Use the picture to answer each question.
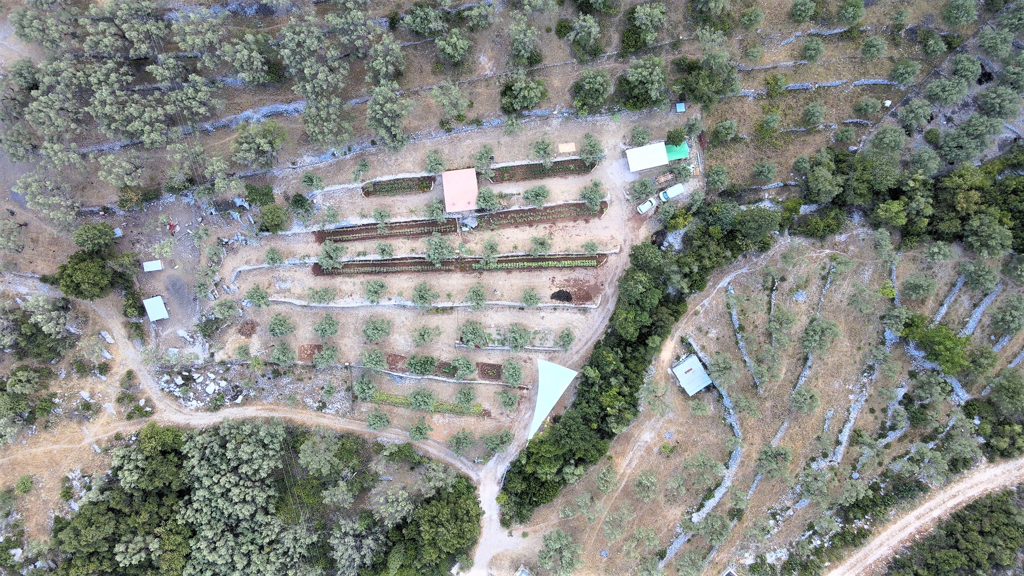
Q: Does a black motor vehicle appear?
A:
No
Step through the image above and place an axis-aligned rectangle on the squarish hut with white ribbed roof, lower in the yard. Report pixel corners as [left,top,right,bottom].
[144,296,173,321]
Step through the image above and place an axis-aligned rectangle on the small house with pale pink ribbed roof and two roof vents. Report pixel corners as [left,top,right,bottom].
[442,168,478,212]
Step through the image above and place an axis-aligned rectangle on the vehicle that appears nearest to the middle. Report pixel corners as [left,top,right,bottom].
[637,197,657,215]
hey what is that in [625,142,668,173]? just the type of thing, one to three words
house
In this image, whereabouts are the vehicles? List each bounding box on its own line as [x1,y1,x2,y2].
[658,182,686,203]
[637,197,657,215]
